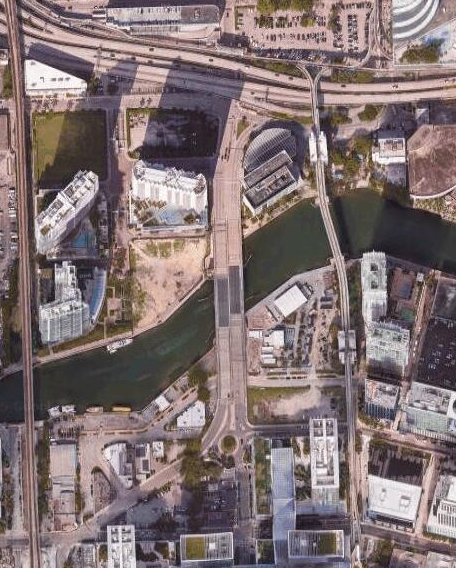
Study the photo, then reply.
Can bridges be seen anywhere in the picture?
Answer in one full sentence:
Yes, a bridge appears in the view.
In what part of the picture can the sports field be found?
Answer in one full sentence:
The sports field sits in the top left section of the image.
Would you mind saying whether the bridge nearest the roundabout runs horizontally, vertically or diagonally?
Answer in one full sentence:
Seen from above, the bridge nearest the roundabout lies vertically.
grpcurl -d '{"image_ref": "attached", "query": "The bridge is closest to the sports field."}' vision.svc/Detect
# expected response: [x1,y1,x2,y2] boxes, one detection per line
[7,0,40,568]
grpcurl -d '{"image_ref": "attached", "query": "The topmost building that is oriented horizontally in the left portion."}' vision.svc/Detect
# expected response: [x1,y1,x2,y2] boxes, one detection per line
[99,5,221,43]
